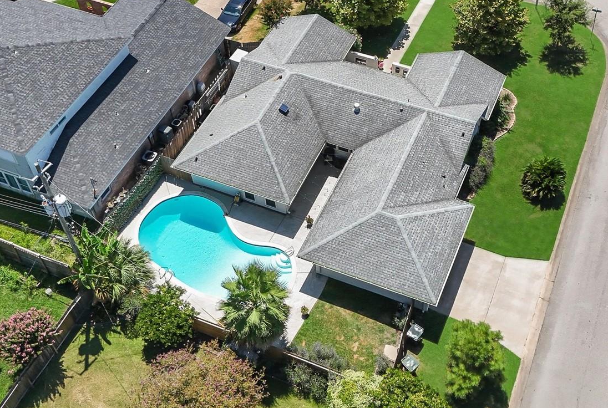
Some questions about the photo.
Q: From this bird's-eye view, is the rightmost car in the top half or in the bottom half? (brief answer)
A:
top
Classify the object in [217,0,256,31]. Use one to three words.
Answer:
car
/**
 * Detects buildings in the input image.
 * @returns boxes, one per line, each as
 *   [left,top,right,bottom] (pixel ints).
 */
[171,13,506,315]
[0,0,232,225]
